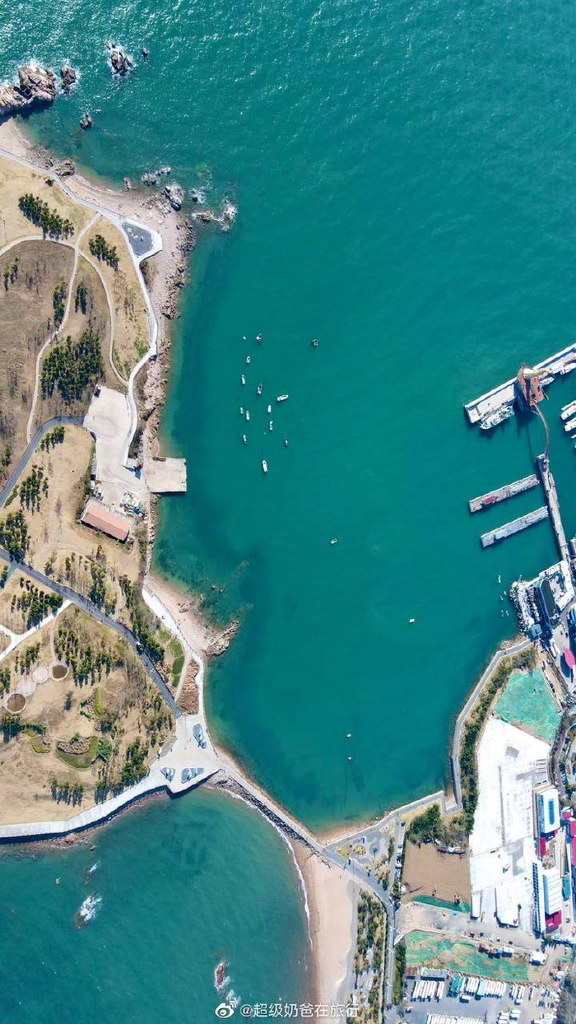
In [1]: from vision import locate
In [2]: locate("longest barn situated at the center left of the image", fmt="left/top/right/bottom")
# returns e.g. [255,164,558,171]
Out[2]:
[81,504,130,540]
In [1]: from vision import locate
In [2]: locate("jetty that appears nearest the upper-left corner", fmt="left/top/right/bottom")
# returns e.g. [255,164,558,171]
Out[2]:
[144,457,187,494]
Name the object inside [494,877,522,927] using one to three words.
shed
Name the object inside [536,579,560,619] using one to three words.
building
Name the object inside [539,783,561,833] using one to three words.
building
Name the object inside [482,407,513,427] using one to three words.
boat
